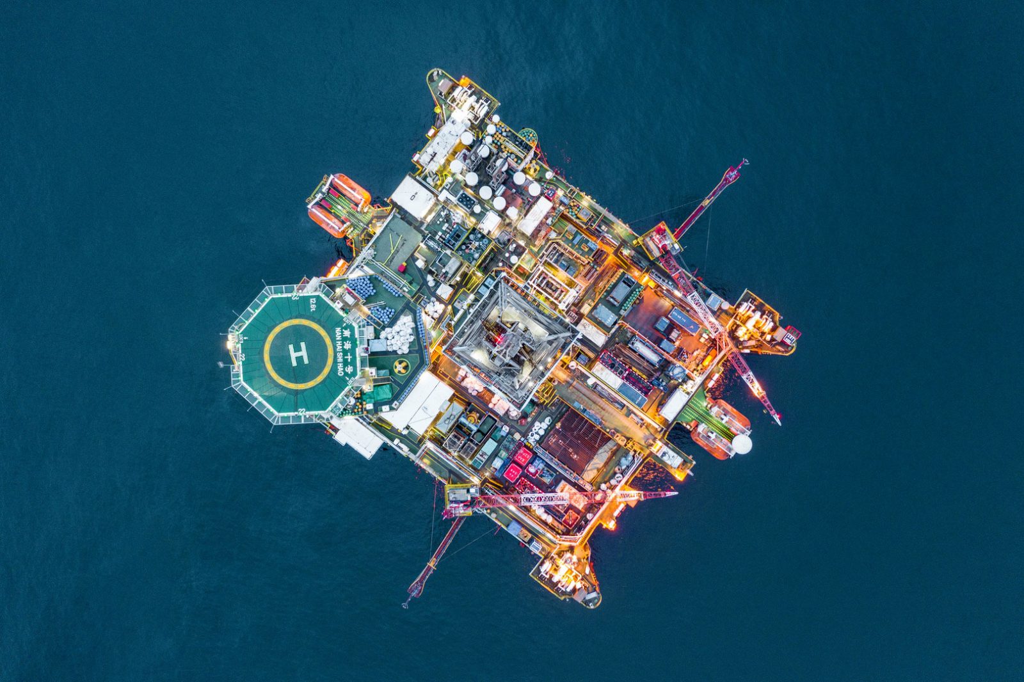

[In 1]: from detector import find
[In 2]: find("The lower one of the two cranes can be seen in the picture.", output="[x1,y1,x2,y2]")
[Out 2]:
[447,479,680,528]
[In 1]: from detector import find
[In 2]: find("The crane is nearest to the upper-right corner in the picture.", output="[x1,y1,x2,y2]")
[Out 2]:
[637,218,782,426]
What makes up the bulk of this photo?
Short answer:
water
